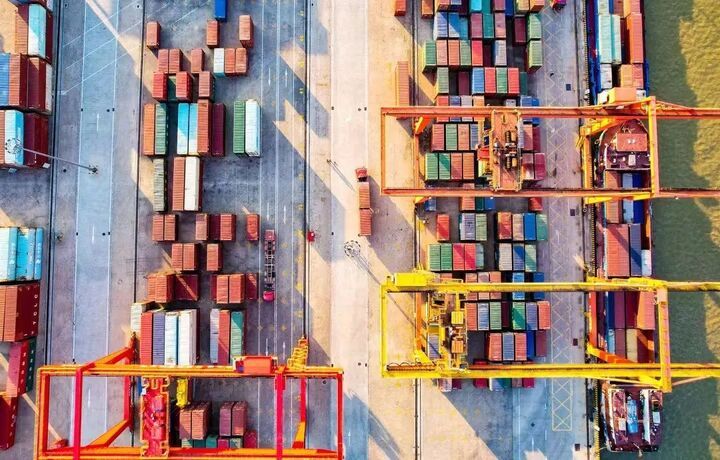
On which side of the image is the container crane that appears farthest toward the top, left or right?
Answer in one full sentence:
It is on the right.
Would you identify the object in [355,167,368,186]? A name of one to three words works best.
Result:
vehicle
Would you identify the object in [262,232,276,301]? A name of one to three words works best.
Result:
vehicle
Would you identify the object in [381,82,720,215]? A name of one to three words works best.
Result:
container crane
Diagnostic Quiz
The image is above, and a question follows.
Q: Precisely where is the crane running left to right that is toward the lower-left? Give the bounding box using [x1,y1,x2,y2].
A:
[23,333,343,460]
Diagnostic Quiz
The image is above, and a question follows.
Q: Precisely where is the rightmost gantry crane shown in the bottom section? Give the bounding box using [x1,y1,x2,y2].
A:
[380,269,720,392]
